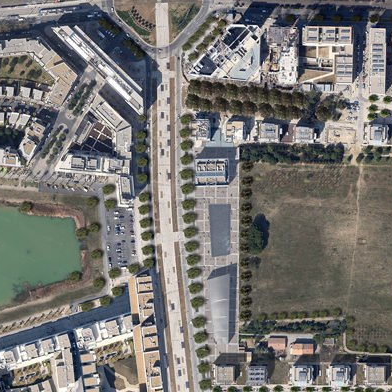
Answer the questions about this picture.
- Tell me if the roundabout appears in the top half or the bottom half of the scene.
top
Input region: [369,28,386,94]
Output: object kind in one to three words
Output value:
building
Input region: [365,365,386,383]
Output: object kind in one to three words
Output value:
house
